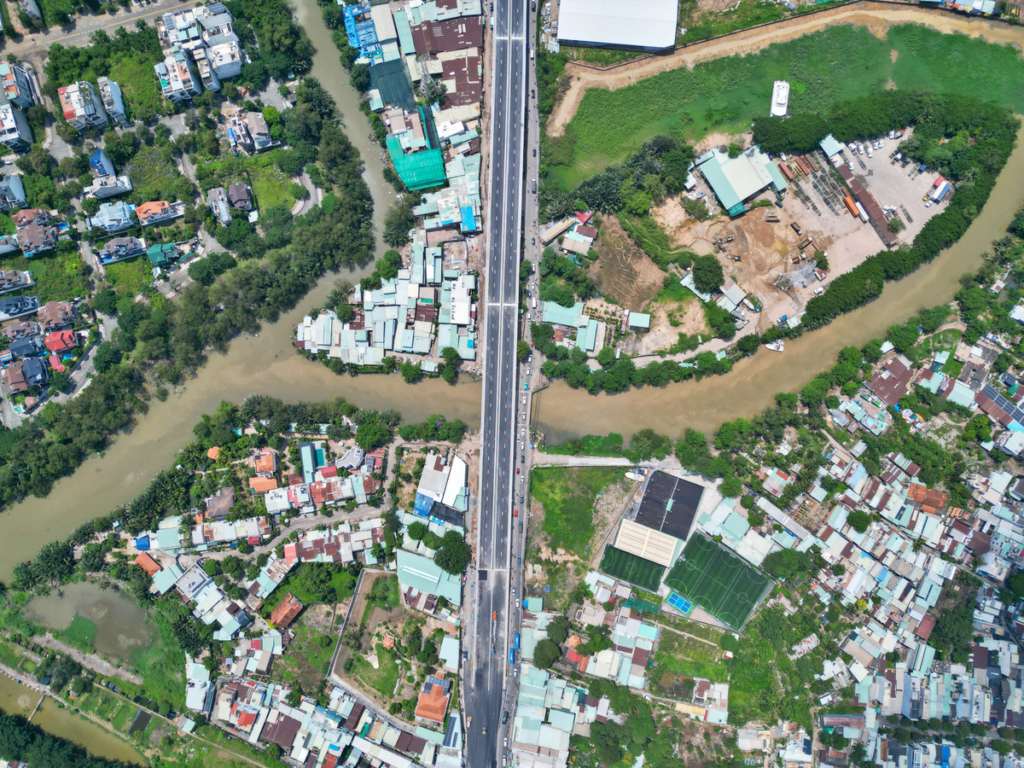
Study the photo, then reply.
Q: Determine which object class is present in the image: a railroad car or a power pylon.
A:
power pylon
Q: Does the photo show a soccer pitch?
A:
Yes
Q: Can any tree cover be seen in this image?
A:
Yes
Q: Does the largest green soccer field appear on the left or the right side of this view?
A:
right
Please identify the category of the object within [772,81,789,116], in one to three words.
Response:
boat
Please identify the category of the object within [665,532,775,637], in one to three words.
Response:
soccer field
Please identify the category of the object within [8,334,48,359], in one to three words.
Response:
house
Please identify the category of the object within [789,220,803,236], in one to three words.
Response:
vehicle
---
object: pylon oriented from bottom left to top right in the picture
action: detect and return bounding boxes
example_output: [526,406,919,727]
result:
[769,261,823,299]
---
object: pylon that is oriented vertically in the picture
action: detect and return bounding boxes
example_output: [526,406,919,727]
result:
[410,52,442,108]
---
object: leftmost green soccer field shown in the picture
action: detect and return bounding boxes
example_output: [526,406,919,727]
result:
[598,544,665,592]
